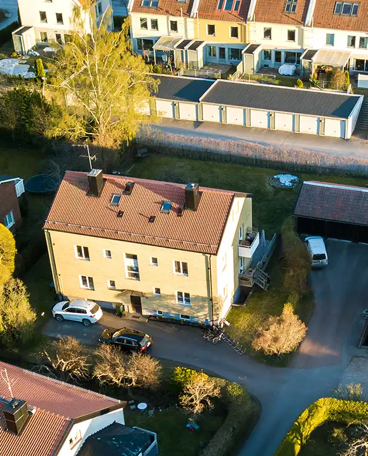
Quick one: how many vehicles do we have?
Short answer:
three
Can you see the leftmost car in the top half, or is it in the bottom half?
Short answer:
bottom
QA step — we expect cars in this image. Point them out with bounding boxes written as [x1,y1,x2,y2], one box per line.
[50,299,108,330]
[304,239,330,269]
[97,327,157,357]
